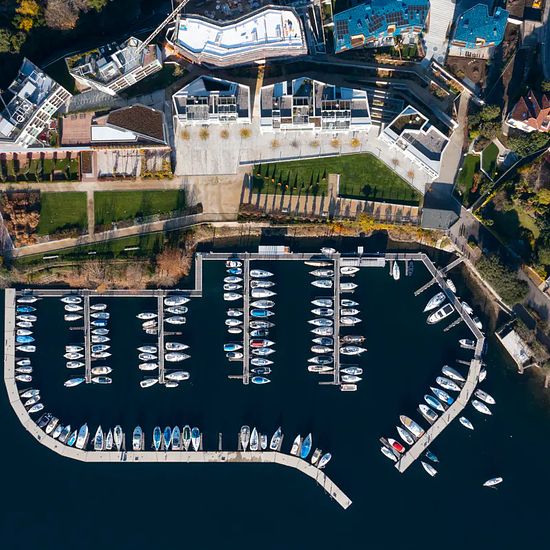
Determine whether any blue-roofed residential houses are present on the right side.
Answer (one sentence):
Yes, the scene does show a blue-roofed residential house on the right side.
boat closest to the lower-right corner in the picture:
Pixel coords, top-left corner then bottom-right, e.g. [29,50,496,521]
[482,476,503,490]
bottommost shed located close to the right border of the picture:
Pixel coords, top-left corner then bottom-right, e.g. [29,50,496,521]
[509,306,534,333]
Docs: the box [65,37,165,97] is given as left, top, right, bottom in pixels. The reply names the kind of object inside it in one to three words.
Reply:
house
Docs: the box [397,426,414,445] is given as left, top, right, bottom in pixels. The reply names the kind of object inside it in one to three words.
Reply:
boat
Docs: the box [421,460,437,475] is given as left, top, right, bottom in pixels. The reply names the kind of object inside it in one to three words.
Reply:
boat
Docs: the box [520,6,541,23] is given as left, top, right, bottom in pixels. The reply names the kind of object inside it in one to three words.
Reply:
building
